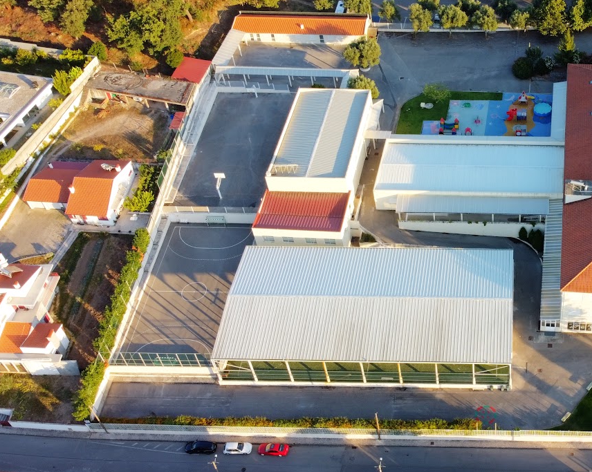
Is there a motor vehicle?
Yes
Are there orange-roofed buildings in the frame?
Yes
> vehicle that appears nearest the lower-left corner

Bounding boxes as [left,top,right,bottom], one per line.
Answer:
[186,441,216,457]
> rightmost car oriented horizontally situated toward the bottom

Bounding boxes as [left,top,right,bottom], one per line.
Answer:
[257,443,291,458]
